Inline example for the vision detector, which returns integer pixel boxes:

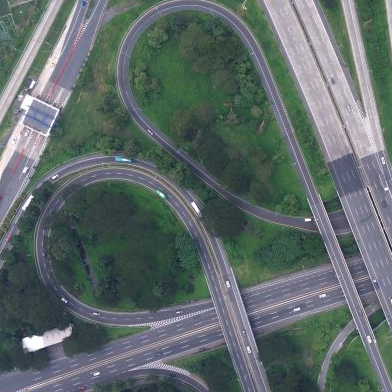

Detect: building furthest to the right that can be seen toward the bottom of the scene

[43,323,73,346]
